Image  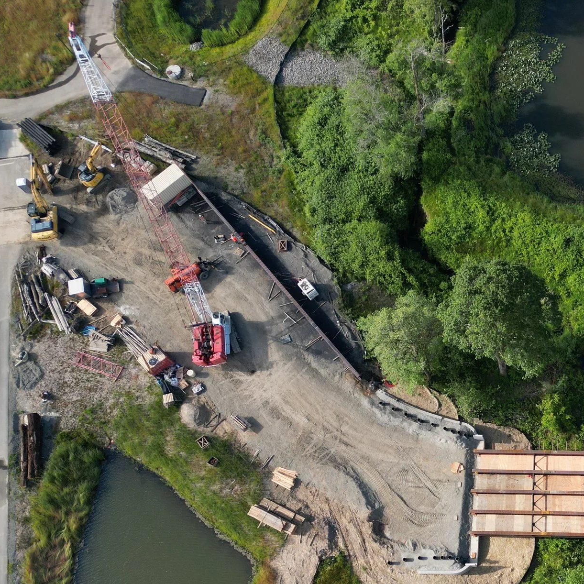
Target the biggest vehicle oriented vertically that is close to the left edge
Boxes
[27,154,69,243]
